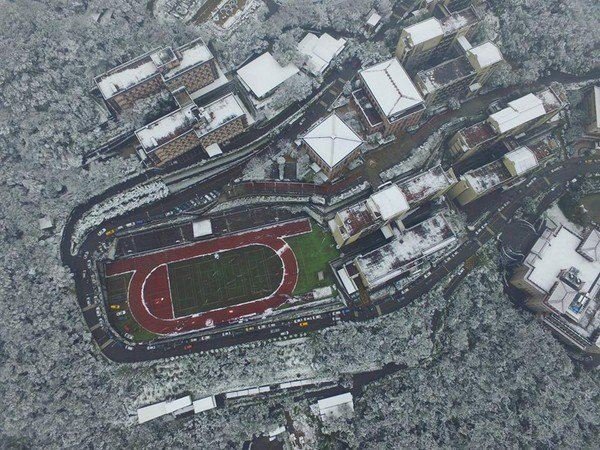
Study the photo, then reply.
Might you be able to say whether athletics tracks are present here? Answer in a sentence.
Yes, looking at the shot, I can spot an athletics track.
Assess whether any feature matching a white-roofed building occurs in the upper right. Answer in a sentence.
Yes, a white-roofed building shows up in the upper right.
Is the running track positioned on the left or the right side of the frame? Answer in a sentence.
The running track appears in the left half of the scene.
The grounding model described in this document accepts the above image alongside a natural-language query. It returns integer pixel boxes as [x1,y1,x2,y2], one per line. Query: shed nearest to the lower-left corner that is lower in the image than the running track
[136,400,170,424]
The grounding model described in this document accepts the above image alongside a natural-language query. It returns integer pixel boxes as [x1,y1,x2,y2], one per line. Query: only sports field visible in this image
[168,244,283,317]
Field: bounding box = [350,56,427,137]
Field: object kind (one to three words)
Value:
building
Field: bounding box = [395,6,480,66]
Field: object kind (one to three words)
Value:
building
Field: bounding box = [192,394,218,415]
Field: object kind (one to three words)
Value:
shed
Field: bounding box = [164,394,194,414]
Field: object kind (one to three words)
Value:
shed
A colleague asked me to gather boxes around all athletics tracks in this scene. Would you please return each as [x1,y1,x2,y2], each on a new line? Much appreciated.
[105,221,313,332]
